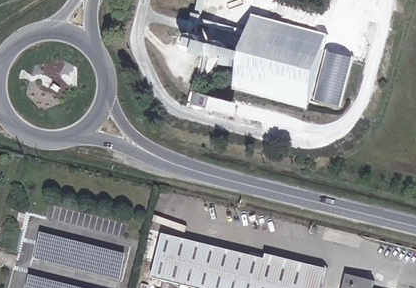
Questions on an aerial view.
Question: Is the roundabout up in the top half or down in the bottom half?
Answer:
top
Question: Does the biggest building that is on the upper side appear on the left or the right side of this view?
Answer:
right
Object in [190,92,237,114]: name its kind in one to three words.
building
